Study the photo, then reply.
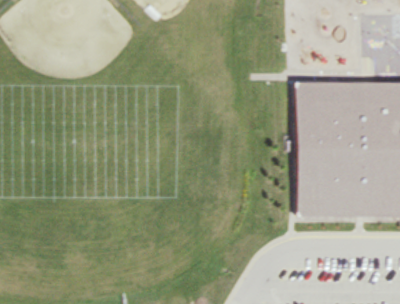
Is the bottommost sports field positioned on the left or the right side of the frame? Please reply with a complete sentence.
The bottommost sports field appears in the left half of the scene.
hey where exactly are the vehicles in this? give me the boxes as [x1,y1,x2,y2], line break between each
[324,271,333,282]
[324,258,330,270]
[332,270,342,282]
[306,258,310,270]
[356,257,362,268]
[304,270,312,280]
[372,271,380,282]
[332,259,337,270]
[386,270,396,281]
[342,258,348,270]
[348,271,358,282]
[357,270,366,280]
[318,270,326,282]
[278,268,287,279]
[374,258,379,269]
[366,272,376,284]
[318,258,323,269]
[386,258,392,269]
[296,270,305,281]
[288,270,298,280]
[362,258,368,270]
